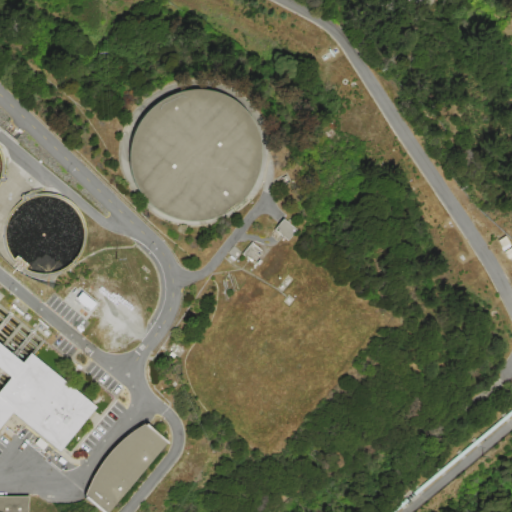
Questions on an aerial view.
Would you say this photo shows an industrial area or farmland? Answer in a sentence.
This image shows an industrial area.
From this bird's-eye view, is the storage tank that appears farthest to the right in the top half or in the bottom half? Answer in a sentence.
The top half of the photo is where the storage tank that appears farthest to the right is.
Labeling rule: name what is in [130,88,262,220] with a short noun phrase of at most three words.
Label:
storage tank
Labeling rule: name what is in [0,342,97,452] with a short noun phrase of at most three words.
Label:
building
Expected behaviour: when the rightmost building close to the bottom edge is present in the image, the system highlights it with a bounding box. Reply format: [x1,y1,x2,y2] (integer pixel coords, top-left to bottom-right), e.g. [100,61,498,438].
[85,424,170,512]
